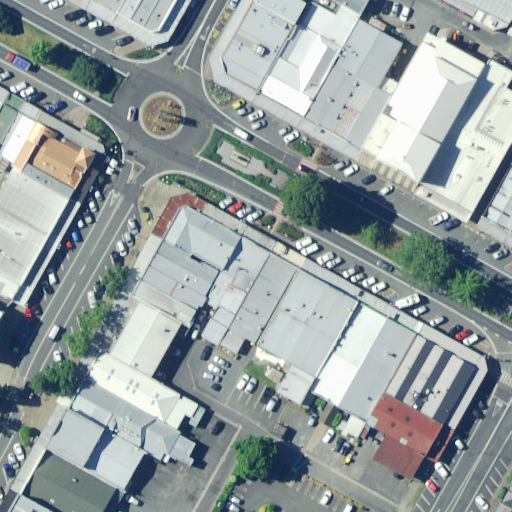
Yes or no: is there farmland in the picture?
No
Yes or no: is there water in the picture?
No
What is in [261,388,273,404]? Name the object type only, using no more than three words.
vehicle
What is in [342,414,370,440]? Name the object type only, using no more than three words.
shed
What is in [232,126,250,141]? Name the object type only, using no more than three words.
vehicle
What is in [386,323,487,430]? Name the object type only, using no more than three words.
building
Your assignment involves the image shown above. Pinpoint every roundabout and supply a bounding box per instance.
[140,92,186,139]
